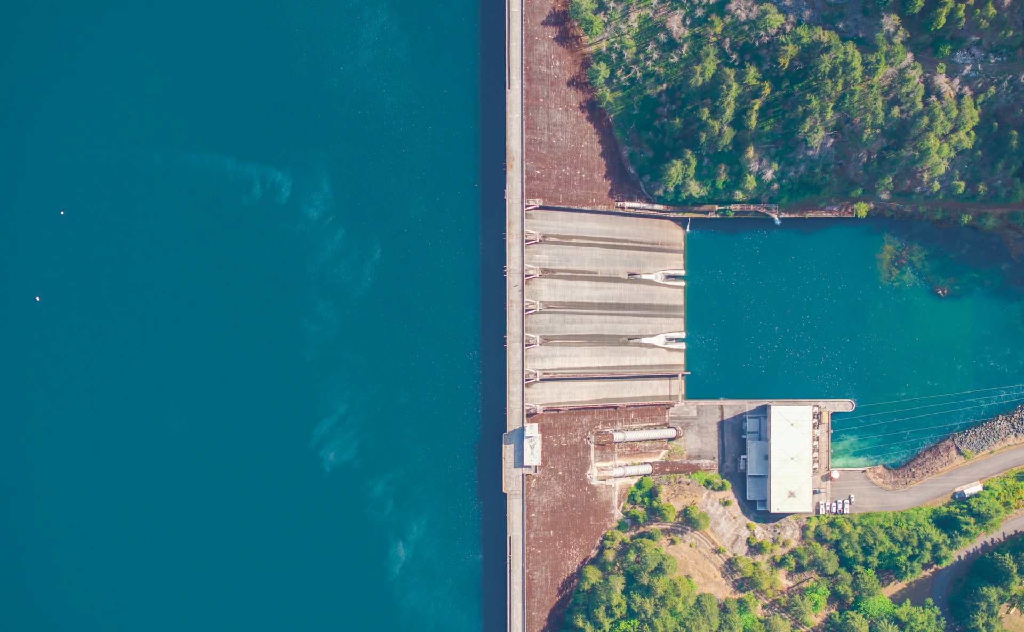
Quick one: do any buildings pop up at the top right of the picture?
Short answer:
No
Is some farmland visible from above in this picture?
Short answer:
No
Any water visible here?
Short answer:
Yes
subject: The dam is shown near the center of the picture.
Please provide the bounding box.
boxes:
[502,0,693,632]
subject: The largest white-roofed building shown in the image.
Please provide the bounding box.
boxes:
[745,404,812,513]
